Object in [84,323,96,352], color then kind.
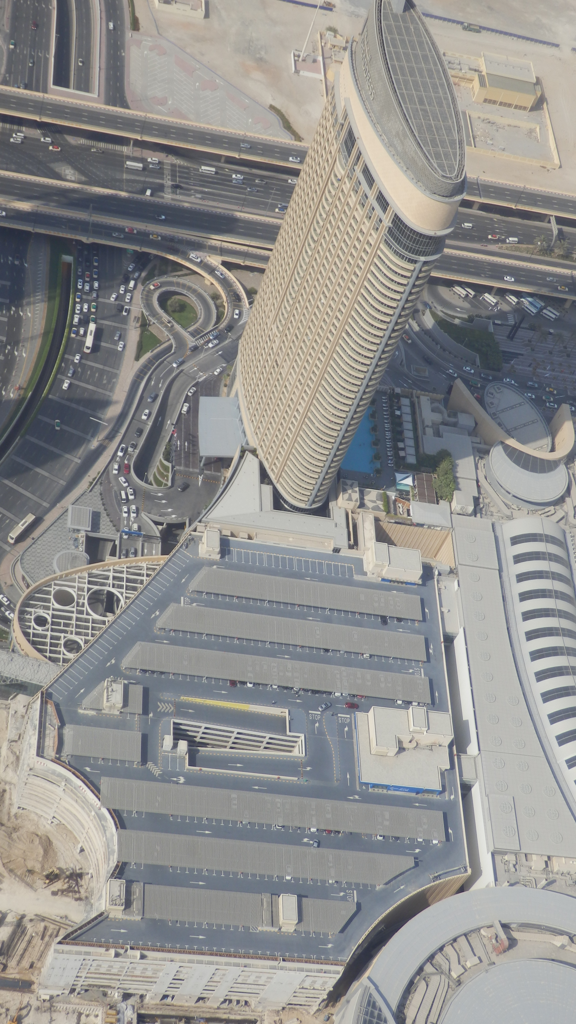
white vehicle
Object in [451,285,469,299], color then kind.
white vehicle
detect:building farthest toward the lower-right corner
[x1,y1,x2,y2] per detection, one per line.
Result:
[320,887,576,1024]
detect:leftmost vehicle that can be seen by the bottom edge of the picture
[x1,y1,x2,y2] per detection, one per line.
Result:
[5,999,28,1024]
